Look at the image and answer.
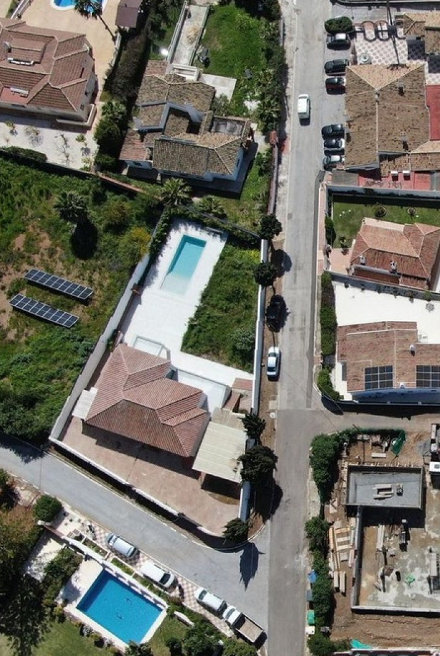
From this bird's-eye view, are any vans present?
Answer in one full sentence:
Yes, there's a van here.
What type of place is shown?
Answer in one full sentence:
What you see here is a residential area.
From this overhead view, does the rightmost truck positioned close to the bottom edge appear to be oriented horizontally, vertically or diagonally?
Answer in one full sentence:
The rightmost truck positioned close to the bottom edge runs diagonally in the image.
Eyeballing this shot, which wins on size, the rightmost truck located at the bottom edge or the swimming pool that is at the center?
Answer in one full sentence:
The swimming pool covers a greater area than the truck.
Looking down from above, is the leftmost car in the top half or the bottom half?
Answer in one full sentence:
You can find the leftmost car in the bottom half.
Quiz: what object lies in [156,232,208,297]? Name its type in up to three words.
swimming pool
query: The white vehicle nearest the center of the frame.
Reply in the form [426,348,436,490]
[265,348,281,377]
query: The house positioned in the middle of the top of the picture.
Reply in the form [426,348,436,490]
[119,60,255,182]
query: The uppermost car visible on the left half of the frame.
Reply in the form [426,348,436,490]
[104,531,141,562]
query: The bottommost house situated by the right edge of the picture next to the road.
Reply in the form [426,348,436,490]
[336,321,440,396]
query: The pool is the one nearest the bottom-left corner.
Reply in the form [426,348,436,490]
[66,564,171,653]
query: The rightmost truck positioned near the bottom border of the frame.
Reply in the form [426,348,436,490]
[220,604,266,647]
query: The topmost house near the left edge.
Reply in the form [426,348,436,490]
[0,16,102,129]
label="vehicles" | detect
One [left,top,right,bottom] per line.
[322,124,345,137]
[325,76,346,92]
[295,95,310,121]
[265,348,281,377]
[323,138,346,152]
[193,585,228,615]
[134,557,178,590]
[220,604,266,647]
[104,531,141,562]
[324,59,349,74]
[323,154,345,168]
[266,297,283,329]
[327,34,352,49]
[430,424,440,475]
